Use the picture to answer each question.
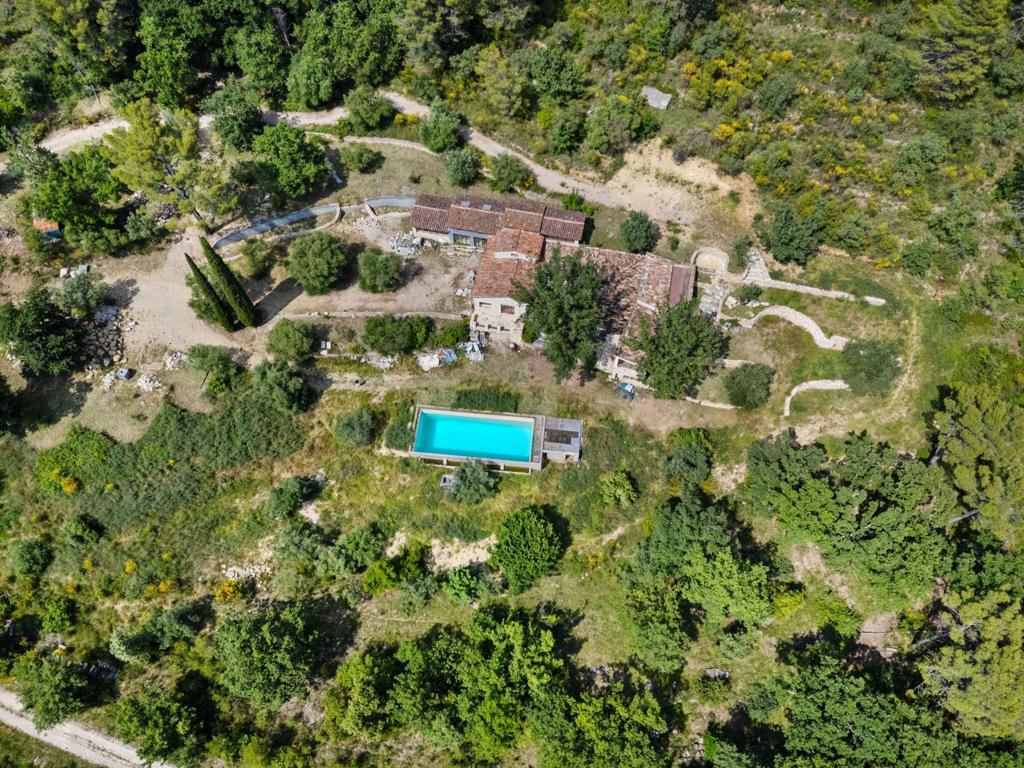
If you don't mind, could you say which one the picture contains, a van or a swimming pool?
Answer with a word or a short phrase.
swimming pool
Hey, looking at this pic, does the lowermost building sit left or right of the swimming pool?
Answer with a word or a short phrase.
to the right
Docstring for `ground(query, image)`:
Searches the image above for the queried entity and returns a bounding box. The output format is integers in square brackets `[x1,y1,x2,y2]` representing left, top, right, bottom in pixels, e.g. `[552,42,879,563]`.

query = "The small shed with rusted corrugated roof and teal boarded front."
[34,217,65,246]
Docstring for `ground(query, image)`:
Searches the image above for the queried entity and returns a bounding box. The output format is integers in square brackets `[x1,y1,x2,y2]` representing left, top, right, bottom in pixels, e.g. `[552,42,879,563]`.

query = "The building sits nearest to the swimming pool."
[543,416,584,471]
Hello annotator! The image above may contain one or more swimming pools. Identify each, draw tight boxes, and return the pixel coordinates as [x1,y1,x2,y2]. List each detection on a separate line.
[409,405,546,480]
